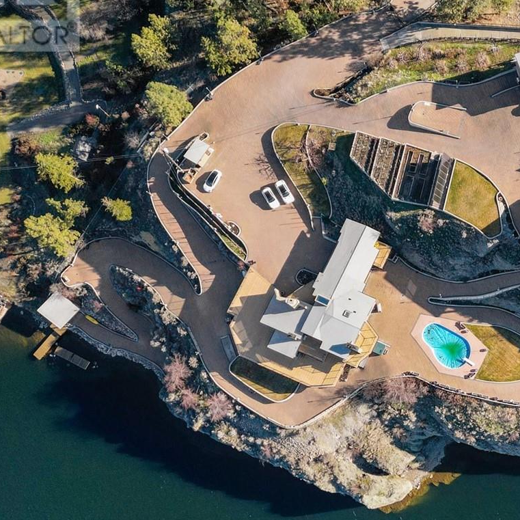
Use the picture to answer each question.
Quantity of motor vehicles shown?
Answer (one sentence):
I count 3 motor vehicles.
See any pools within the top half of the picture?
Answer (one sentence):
No, looking within the top half of the picture, there is no pool.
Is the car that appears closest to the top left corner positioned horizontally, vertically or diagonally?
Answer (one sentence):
Seen from above, the car that appears closest to the top left corner lies diagonally.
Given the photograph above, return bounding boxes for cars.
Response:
[200,168,222,193]
[273,177,294,205]
[259,183,280,209]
